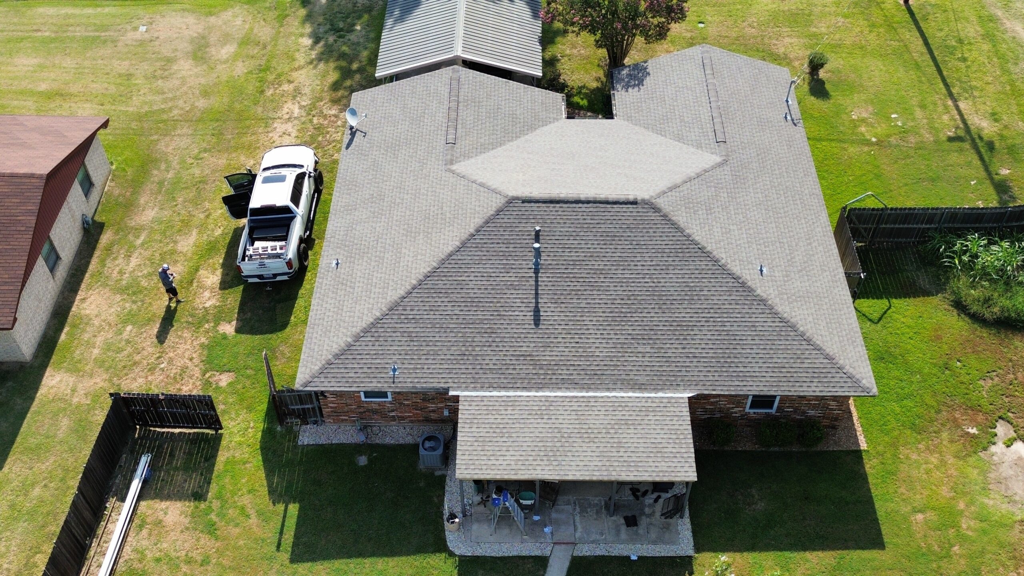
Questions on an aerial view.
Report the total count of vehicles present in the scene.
one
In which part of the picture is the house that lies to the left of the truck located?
left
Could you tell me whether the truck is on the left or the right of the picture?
left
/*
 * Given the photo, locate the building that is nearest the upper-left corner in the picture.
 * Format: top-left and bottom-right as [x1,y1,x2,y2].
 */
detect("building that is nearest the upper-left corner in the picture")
[0,115,107,363]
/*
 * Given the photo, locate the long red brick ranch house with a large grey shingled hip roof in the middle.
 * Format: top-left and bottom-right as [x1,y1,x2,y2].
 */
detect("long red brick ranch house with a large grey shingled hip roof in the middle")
[293,45,879,430]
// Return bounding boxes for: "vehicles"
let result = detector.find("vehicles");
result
[217,142,323,289]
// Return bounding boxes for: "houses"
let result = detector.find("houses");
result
[293,45,879,430]
[0,115,107,363]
